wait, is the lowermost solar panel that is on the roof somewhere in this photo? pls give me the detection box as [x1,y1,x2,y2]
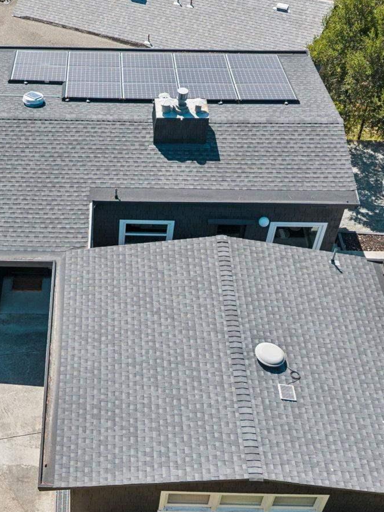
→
[280,366,301,398]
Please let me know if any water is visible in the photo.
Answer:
No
